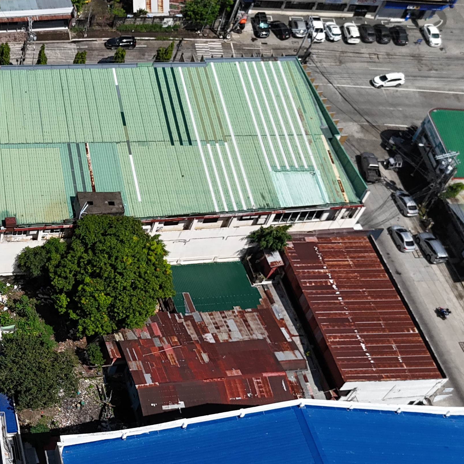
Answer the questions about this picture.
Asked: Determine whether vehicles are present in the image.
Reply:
Yes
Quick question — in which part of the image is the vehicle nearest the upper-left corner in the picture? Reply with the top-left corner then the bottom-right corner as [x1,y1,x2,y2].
[105,34,138,51]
